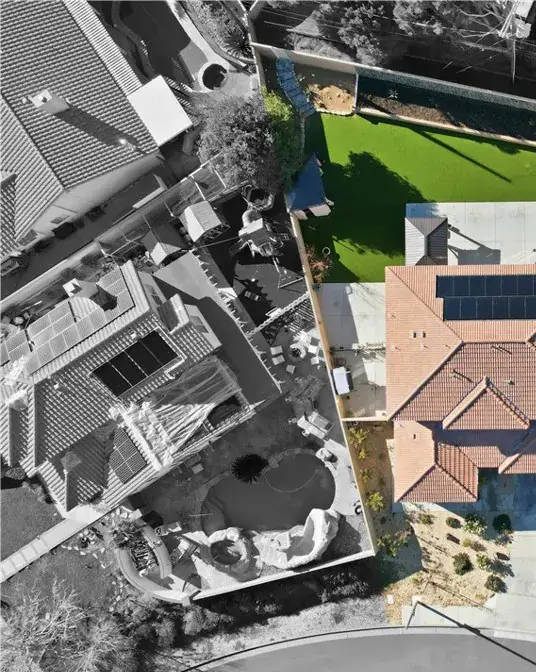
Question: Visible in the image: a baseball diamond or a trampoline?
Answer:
trampoline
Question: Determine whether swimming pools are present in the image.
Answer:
Yes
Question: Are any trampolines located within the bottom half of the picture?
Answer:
No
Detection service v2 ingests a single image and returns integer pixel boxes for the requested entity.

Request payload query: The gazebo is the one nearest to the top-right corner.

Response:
[406,217,447,265]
